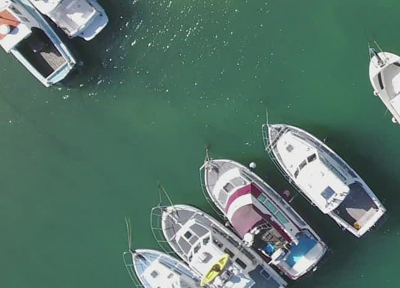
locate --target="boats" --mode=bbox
[199,158,327,280]
[200,254,229,287]
[262,122,386,237]
[155,203,285,288]
[371,48,400,121]
[26,0,110,42]
[0,0,79,87]
[123,247,207,288]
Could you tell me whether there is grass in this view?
No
